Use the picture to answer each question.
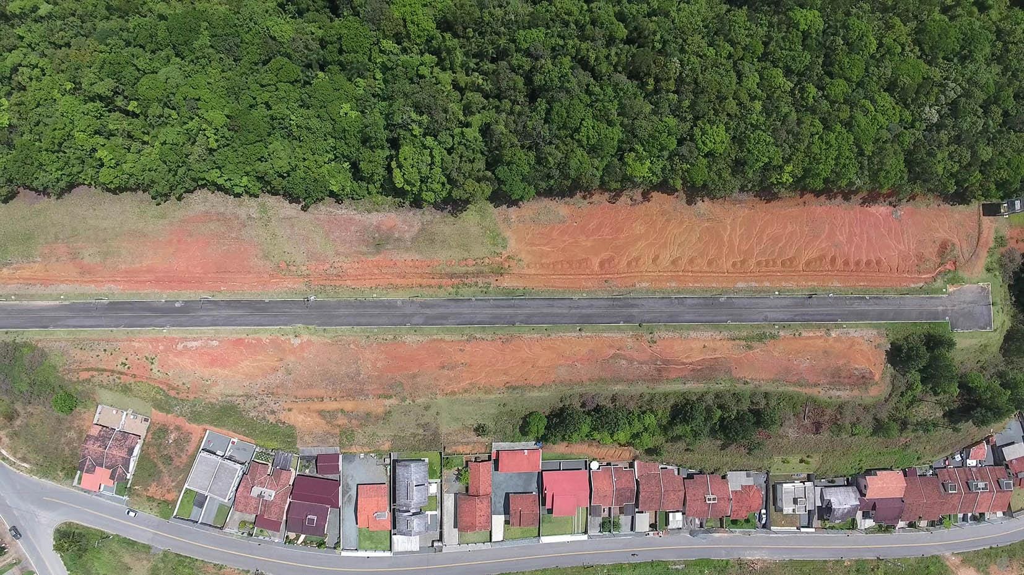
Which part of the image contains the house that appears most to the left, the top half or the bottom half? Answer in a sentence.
The bottom half of the photo is where the house that appears most to the left is.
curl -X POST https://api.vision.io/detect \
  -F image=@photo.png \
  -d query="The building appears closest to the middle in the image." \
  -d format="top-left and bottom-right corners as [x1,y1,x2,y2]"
[492,441,542,473]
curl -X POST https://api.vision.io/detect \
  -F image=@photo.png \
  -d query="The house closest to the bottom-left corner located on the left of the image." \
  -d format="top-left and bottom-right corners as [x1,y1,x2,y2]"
[79,425,143,492]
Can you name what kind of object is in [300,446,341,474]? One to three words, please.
shed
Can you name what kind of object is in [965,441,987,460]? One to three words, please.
house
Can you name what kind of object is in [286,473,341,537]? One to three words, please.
house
